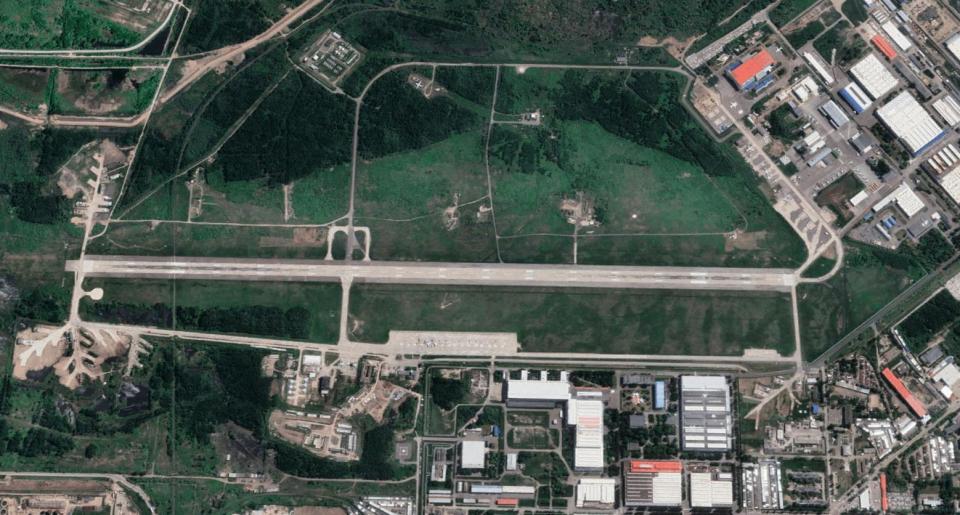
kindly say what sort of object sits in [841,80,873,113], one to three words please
building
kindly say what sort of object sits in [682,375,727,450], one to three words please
building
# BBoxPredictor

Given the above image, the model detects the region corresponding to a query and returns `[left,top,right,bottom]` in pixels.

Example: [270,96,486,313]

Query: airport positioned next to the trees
[19,62,844,387]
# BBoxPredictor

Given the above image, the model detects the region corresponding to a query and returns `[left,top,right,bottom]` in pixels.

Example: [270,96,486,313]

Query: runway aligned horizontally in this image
[65,260,798,285]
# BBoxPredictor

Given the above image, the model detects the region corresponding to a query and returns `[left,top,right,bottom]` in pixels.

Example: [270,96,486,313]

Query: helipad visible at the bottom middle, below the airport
[397,443,411,460]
